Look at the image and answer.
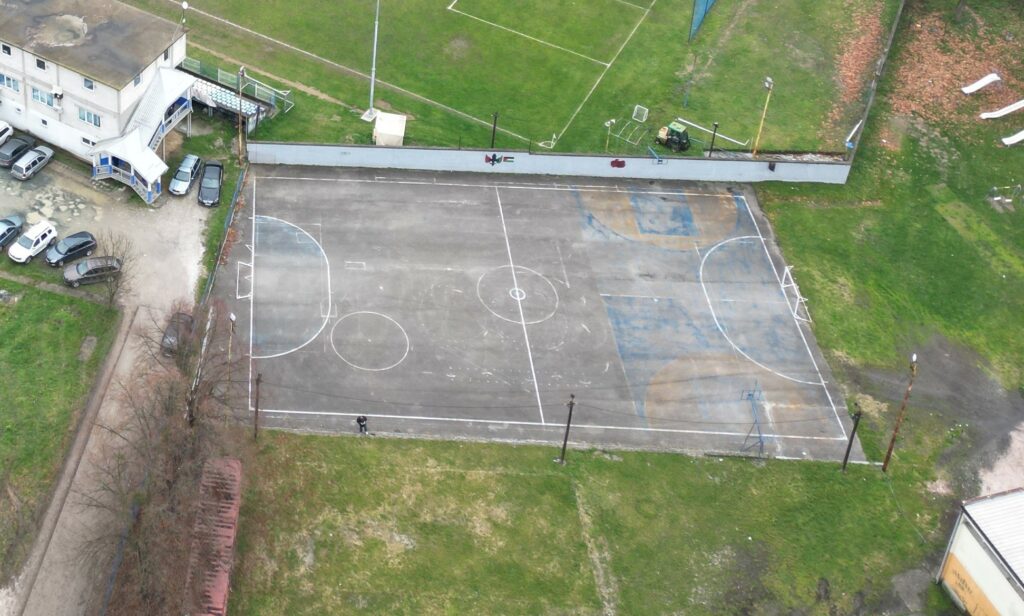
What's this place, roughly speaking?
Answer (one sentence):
This looks like a sports ground.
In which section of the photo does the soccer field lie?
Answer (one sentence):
The soccer field sits in the top section of the image.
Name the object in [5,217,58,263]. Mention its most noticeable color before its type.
white car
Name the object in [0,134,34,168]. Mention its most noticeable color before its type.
gray car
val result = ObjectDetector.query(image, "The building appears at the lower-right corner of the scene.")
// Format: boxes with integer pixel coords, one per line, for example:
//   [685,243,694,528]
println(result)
[931,480,1024,616]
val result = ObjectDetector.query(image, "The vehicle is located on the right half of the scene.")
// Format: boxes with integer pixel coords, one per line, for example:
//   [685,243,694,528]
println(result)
[654,118,701,153]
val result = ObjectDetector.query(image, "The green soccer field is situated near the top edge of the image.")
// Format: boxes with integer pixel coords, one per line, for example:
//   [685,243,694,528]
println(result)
[144,0,665,150]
